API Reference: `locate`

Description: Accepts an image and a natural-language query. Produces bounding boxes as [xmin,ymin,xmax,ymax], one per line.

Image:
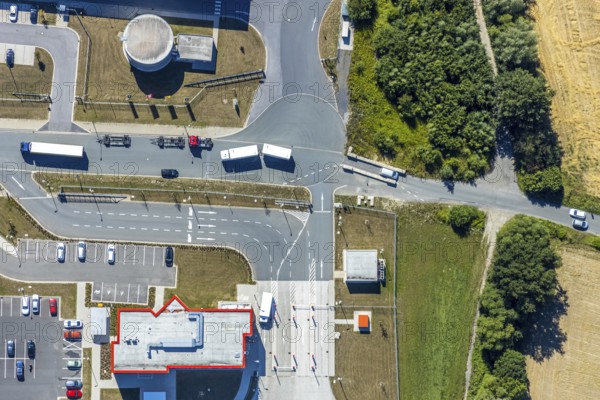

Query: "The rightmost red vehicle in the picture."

[188,135,213,149]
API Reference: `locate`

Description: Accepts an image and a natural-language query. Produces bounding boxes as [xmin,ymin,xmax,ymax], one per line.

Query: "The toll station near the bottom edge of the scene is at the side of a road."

[237,281,335,400]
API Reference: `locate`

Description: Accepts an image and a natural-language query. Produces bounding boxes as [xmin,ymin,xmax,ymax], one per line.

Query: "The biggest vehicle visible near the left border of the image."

[19,141,85,158]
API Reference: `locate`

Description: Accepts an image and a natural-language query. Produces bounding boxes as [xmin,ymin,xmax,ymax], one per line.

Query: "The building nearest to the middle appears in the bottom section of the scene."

[346,249,377,281]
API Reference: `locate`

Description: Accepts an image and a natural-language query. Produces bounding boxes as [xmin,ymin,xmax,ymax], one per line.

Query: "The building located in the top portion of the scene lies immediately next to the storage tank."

[178,34,213,63]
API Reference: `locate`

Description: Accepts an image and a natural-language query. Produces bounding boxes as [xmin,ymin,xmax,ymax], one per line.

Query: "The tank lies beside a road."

[116,15,182,71]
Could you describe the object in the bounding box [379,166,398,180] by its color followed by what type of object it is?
white vehicle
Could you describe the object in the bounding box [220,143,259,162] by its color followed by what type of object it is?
white vehicle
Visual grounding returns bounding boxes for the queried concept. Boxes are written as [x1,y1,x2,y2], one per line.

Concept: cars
[568,208,587,218]
[571,219,589,229]
[64,320,83,329]
[49,299,57,315]
[16,361,25,380]
[9,4,18,22]
[63,330,82,339]
[27,340,36,358]
[161,169,179,177]
[165,248,173,266]
[29,5,38,24]
[6,339,15,357]
[66,380,83,389]
[66,360,82,368]
[21,295,30,314]
[66,389,83,398]
[31,295,39,313]
[77,242,86,260]
[107,245,115,263]
[57,243,65,261]
[6,49,14,66]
